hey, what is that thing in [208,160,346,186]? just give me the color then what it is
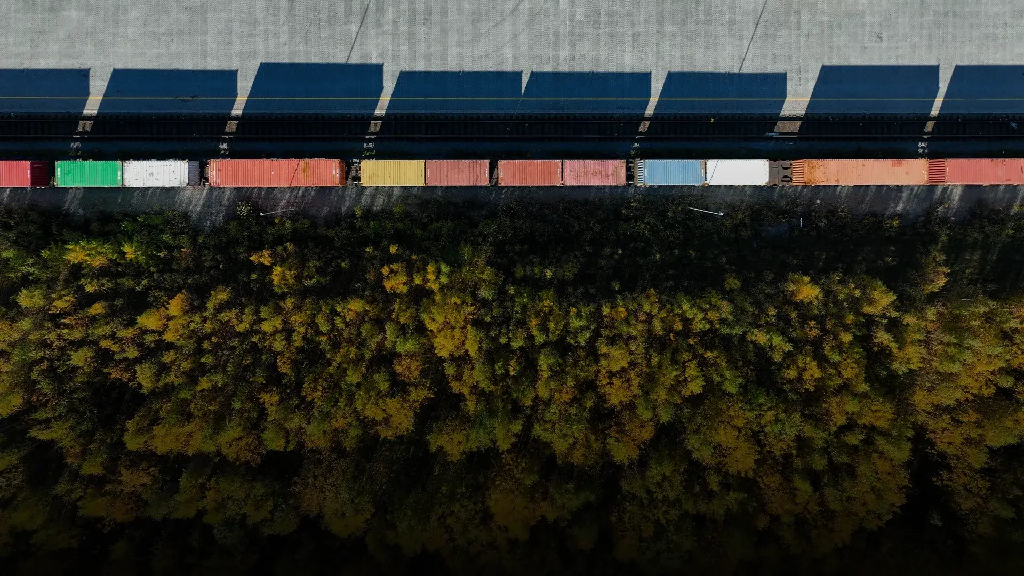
red shipping container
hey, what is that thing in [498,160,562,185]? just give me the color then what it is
red shipping container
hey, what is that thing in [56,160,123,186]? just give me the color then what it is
green shipping container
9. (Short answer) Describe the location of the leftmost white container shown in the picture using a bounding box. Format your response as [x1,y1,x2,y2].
[123,160,200,186]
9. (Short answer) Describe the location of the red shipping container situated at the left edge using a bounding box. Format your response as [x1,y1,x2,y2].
[0,160,49,187]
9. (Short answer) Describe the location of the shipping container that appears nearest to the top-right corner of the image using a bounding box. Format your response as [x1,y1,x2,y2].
[928,159,1024,184]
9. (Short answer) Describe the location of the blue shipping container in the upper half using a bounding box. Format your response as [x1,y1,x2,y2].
[638,160,706,185]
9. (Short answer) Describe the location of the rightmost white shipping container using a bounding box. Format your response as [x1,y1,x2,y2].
[706,160,768,185]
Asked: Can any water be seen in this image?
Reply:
No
